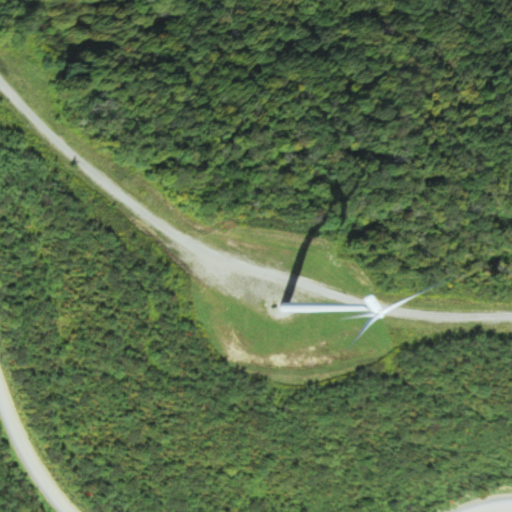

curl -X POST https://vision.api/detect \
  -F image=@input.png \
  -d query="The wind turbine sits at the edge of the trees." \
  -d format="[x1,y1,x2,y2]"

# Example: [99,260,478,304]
[276,278,450,350]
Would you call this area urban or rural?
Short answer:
rural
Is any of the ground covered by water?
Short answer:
No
